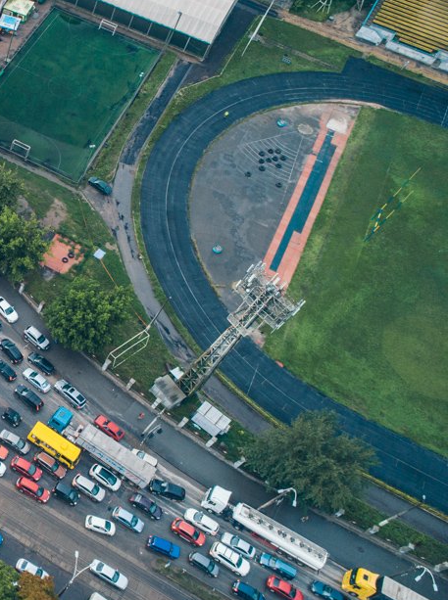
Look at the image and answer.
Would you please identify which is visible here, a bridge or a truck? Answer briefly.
truck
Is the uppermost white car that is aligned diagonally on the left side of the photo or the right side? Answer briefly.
left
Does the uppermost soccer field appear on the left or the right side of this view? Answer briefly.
left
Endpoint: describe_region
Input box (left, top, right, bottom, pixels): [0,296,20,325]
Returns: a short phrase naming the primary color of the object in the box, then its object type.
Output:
white car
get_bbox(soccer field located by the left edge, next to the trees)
[0,8,161,180]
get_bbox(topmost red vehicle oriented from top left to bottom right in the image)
[93,415,126,442]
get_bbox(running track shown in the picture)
[139,56,448,509]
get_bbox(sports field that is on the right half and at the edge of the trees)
[268,103,448,453]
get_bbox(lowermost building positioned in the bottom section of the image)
[188,402,231,441]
